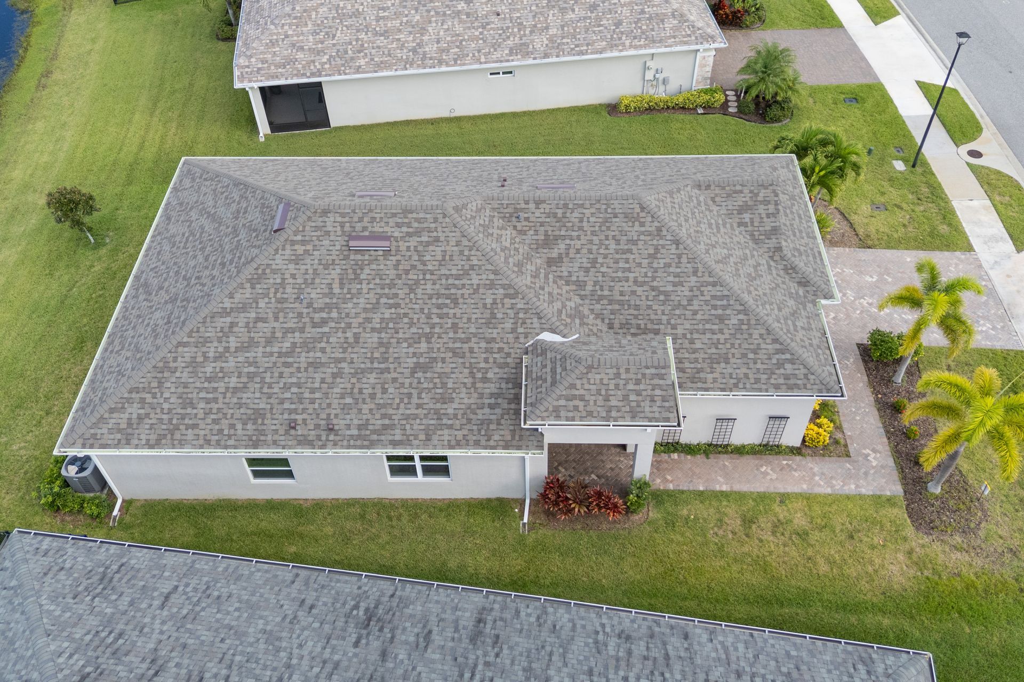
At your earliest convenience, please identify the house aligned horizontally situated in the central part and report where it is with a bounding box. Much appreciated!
[55,155,846,519]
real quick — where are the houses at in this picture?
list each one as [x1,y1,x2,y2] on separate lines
[235,0,727,138]
[55,155,846,519]
[0,530,935,682]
